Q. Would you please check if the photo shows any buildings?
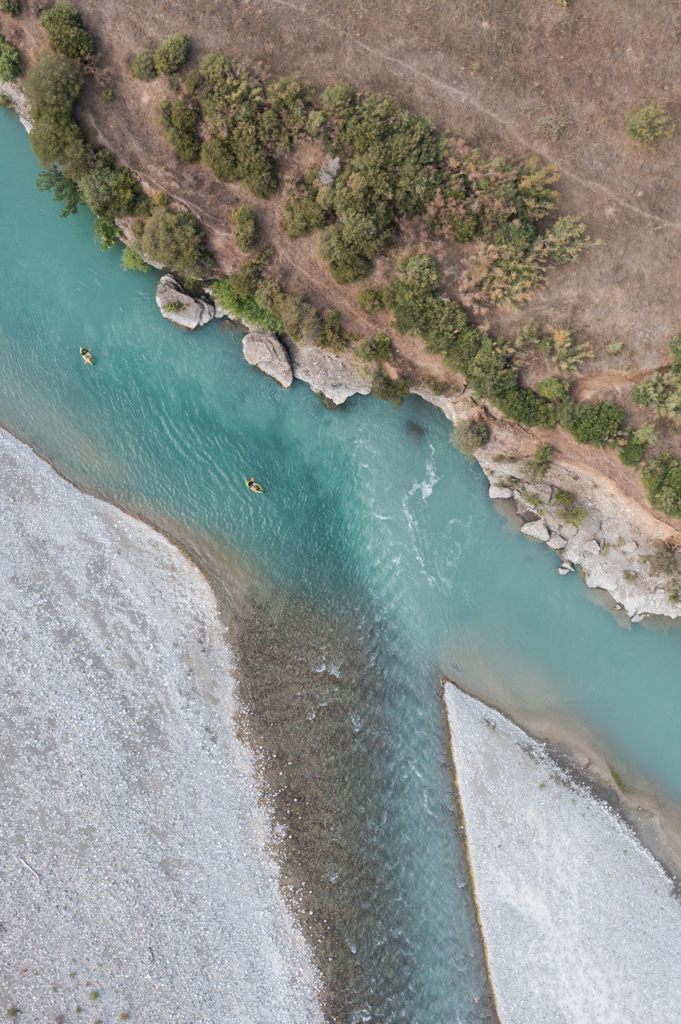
No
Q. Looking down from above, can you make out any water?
Yes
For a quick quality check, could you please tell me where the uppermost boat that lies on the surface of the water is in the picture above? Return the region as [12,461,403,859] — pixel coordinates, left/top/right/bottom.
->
[79,346,94,365]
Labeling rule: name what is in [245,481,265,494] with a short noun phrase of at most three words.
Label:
boat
